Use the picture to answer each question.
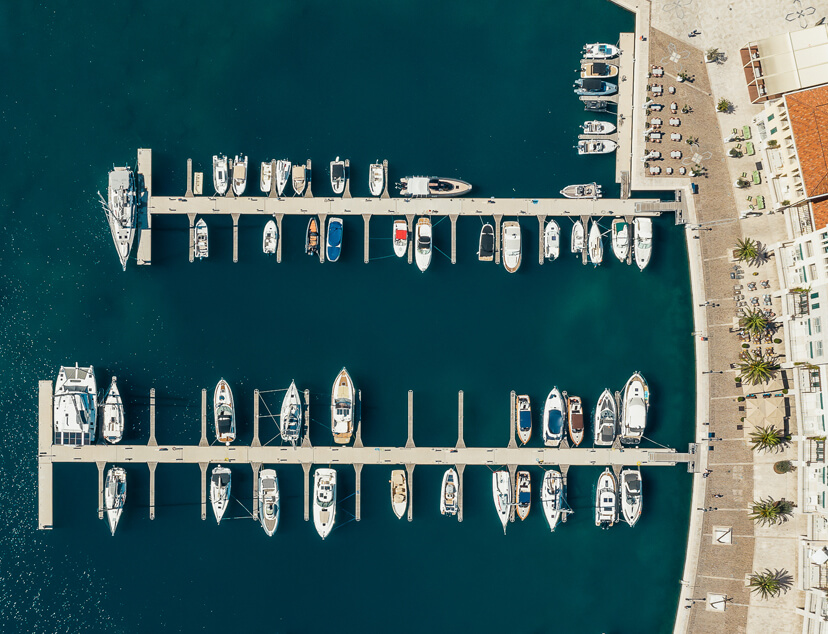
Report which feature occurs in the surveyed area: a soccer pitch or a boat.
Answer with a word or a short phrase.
boat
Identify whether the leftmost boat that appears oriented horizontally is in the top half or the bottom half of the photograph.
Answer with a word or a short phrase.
top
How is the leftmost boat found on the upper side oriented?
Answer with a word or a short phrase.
vertically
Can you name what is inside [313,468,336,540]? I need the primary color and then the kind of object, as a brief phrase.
white boat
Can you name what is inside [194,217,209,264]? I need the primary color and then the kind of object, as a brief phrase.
white boat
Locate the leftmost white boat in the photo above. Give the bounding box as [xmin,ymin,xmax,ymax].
[52,363,97,446]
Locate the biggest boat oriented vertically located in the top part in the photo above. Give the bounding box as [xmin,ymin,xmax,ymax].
[97,163,137,271]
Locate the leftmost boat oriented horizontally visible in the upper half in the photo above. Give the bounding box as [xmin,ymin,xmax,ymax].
[392,175,471,197]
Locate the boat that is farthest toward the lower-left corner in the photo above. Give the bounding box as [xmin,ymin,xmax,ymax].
[99,468,127,536]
